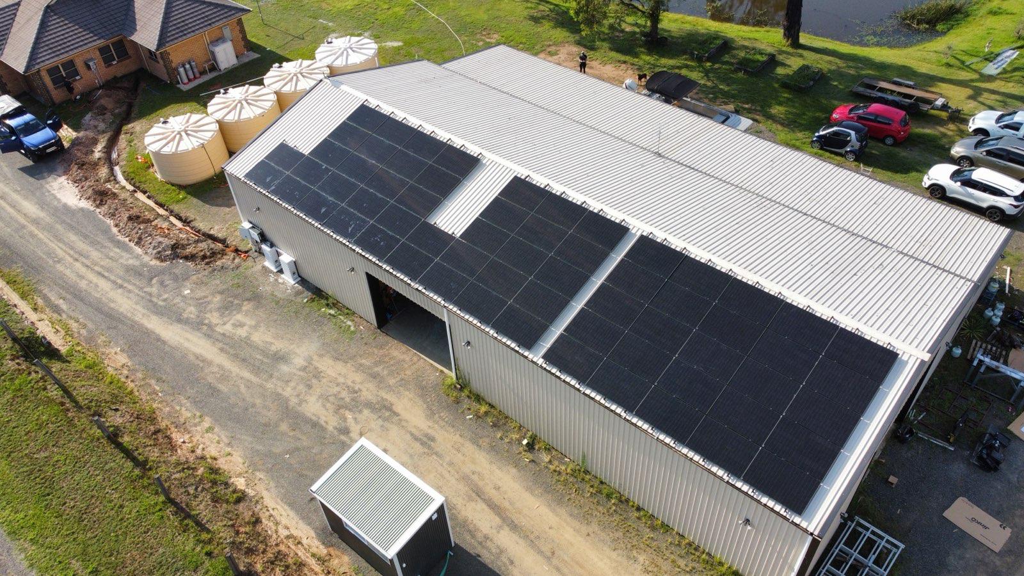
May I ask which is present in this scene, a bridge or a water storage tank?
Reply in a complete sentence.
The one in the frame is a water storage tank.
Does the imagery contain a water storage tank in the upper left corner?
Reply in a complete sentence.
Yes, in the upper left corner there is a water storage tank.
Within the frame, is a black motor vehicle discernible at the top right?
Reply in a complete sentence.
Yes, a black motor vehicle can be seen at the top right.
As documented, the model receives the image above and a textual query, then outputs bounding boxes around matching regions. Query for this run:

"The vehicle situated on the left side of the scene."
[0,90,71,162]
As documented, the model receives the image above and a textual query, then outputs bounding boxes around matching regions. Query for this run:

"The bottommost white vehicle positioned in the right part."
[923,163,1024,220]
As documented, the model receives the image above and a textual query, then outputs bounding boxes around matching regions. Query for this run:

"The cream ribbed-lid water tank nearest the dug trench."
[143,110,233,188]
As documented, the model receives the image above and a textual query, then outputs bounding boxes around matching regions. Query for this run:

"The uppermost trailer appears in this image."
[851,71,960,116]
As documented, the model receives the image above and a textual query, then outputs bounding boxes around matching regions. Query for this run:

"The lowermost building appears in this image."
[311,439,452,576]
